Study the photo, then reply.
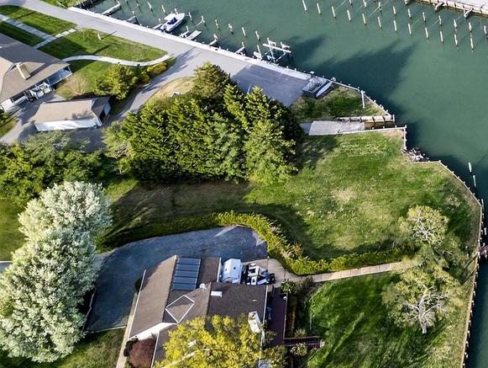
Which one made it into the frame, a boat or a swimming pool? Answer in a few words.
boat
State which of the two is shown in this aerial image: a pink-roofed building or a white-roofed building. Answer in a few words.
white-roofed building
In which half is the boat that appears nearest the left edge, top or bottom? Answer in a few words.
top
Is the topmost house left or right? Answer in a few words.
left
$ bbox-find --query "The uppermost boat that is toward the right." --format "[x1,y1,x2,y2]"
[300,72,332,96]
